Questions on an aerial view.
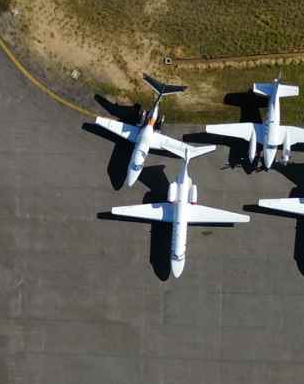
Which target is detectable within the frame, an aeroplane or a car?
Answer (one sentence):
Visible in the photo is an aeroplane.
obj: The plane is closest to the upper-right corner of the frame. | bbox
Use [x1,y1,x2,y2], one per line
[206,72,304,168]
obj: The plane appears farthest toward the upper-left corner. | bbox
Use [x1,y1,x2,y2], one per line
[94,73,198,186]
